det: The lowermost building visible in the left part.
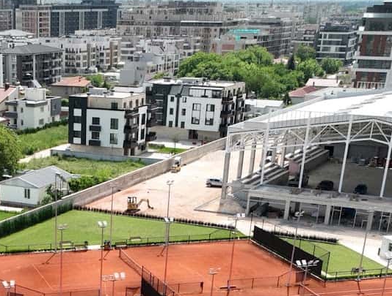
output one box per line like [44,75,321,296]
[0,167,78,210]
